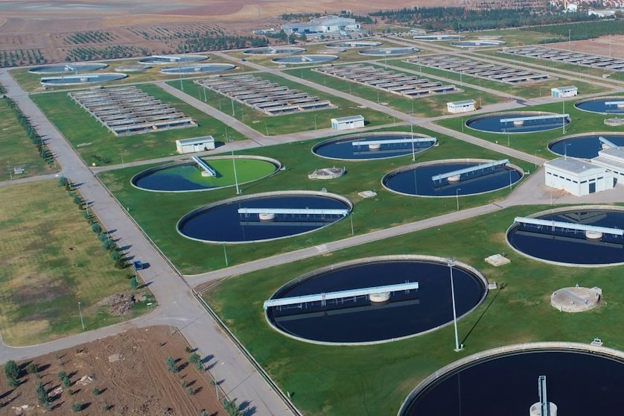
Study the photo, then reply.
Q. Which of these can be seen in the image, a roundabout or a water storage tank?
water storage tank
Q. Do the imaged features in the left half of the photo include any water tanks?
Yes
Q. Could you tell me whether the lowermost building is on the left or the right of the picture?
right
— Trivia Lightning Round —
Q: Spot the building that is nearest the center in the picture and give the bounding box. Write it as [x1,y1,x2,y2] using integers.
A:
[325,113,364,131]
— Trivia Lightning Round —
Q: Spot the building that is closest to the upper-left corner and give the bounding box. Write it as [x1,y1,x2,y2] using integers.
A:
[170,134,215,154]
